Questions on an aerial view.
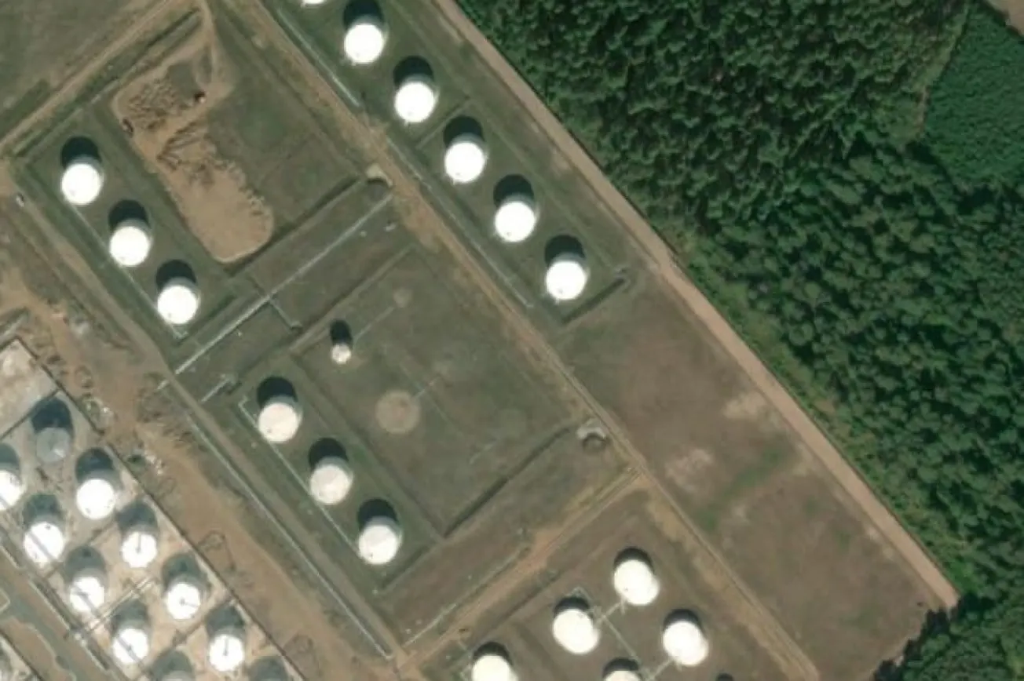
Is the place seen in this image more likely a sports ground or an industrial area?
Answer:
industrial area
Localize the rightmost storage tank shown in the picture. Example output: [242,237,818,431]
[662,616,709,666]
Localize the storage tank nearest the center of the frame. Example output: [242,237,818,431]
[545,251,591,302]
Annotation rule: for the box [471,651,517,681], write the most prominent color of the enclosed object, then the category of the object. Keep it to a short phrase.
white storage tank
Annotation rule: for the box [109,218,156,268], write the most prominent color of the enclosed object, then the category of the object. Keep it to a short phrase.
white storage tank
